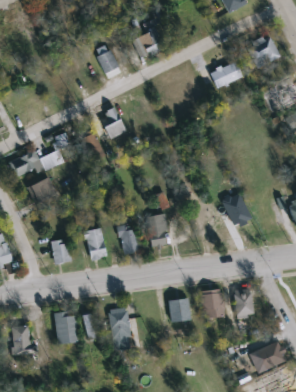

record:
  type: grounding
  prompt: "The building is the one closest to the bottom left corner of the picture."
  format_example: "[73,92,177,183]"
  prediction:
[11,324,30,353]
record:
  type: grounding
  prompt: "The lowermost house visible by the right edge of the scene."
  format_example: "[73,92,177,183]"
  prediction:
[251,342,287,372]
